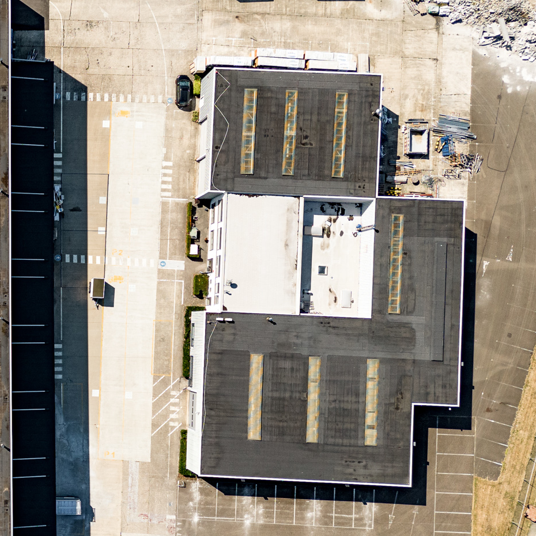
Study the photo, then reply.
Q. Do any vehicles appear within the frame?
Yes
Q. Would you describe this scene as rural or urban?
urban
